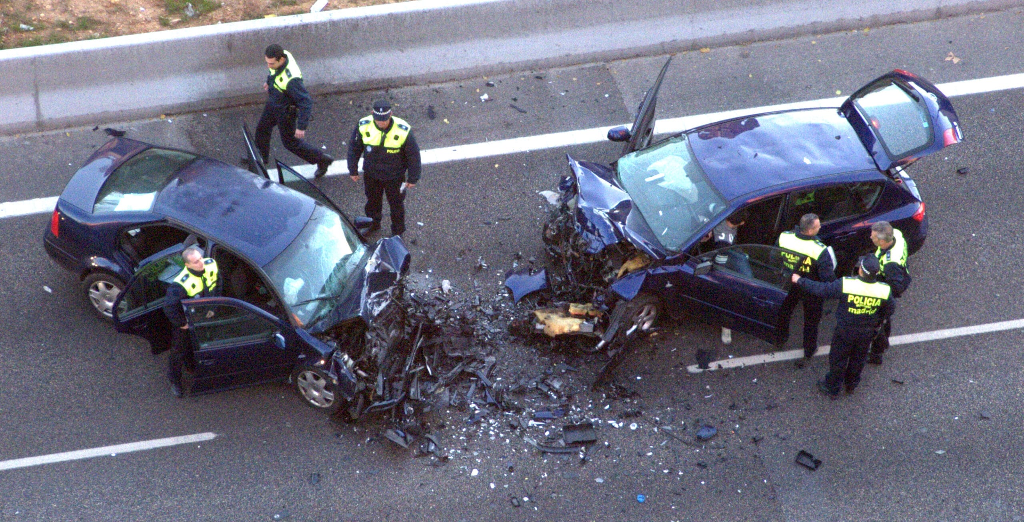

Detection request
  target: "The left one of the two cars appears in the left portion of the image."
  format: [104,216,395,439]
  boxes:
[47,128,445,415]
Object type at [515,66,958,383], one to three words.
car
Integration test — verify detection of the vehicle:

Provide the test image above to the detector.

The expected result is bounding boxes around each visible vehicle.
[47,128,445,415]
[515,66,958,383]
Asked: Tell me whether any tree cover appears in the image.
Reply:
No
